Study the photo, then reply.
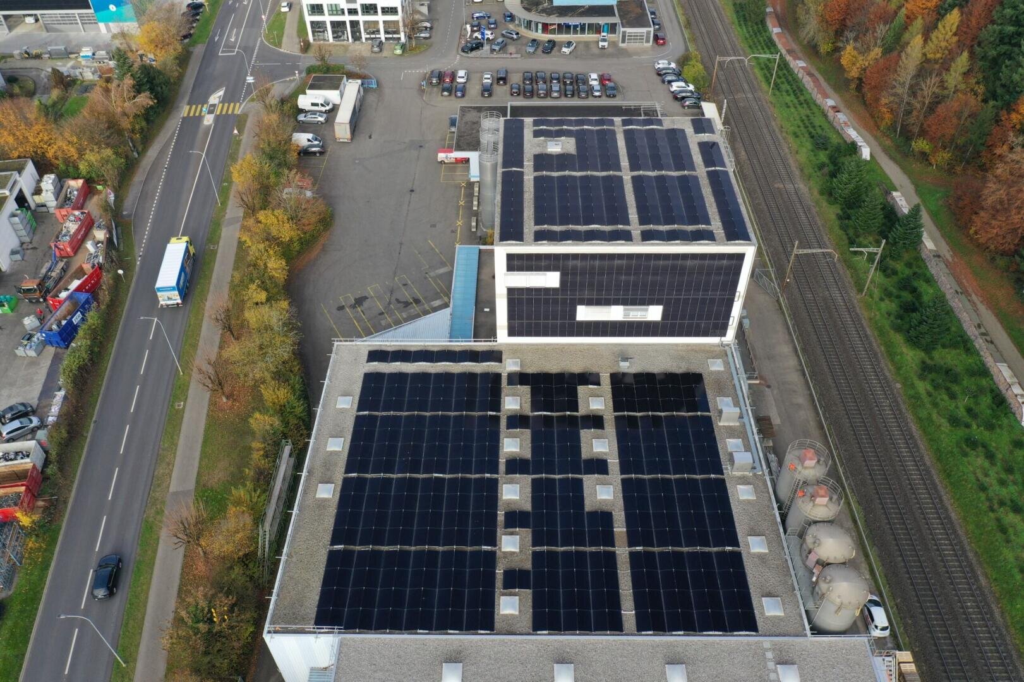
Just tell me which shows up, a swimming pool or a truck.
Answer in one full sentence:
I can see a truck in this picture.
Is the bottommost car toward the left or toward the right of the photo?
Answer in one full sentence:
The bottommost car sits on the right side.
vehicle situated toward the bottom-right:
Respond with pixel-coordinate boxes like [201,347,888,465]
[862,591,897,647]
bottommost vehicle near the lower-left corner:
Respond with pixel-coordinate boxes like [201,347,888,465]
[90,554,124,605]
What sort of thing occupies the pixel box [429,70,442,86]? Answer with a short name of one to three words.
vehicle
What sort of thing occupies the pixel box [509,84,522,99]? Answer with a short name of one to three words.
vehicle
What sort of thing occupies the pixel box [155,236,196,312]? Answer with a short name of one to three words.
truck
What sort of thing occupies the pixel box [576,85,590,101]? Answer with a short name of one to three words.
car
